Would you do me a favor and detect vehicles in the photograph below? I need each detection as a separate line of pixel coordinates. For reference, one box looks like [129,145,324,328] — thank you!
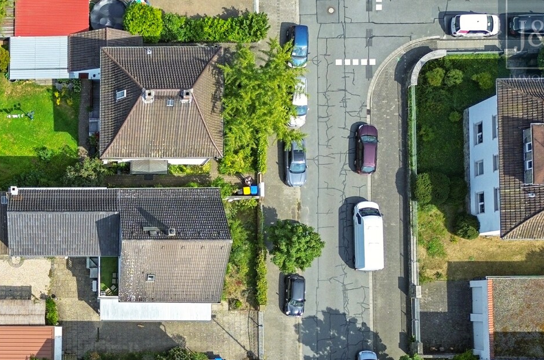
[448,12,496,39]
[353,124,380,175]
[354,348,379,360]
[282,272,308,317]
[350,203,383,269]
[286,23,310,71]
[283,137,309,189]
[286,79,313,126]
[505,15,544,39]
